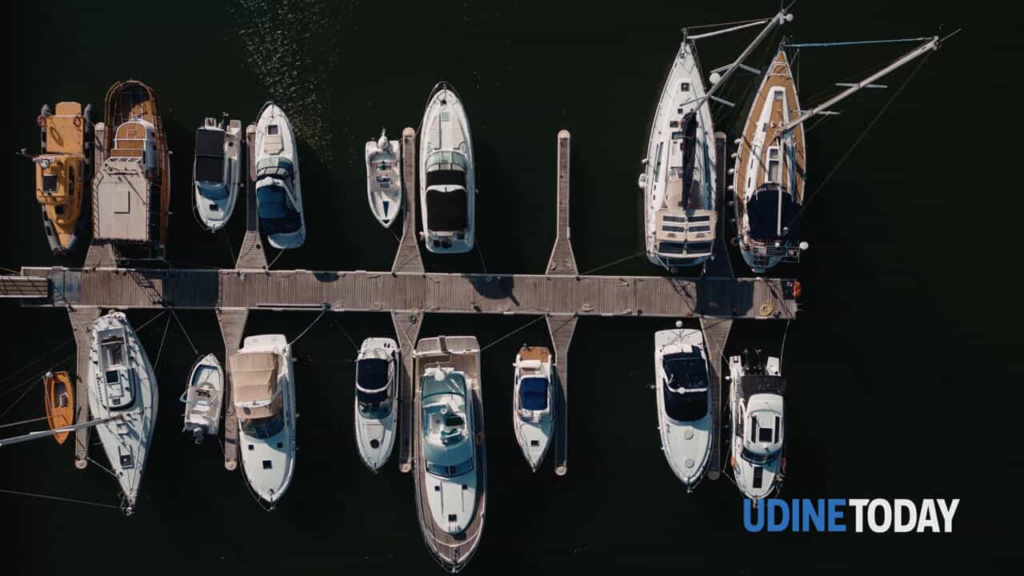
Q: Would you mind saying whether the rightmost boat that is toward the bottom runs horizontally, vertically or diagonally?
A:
vertically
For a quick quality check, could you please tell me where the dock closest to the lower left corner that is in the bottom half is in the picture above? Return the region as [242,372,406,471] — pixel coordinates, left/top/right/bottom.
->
[63,308,100,471]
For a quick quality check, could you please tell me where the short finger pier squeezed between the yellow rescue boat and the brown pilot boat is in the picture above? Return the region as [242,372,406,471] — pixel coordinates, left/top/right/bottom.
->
[78,120,116,268]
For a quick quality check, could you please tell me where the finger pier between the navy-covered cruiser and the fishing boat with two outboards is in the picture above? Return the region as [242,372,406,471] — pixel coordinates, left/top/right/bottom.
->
[701,320,736,481]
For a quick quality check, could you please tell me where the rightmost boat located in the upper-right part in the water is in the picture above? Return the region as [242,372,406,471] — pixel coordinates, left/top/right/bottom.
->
[730,35,955,272]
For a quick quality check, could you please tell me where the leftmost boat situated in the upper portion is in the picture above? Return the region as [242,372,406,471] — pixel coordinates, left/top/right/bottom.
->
[13,101,91,258]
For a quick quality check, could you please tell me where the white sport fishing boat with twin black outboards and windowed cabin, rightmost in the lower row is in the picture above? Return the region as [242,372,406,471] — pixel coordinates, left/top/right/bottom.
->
[726,346,786,507]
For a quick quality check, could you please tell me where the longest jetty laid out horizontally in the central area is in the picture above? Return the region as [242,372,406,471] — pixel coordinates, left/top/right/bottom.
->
[19,266,796,322]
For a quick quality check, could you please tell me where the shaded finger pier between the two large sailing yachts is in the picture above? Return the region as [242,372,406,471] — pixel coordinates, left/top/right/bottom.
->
[702,131,736,276]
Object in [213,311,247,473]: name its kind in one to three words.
pier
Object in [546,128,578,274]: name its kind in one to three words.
pier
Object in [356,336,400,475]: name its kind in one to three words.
boat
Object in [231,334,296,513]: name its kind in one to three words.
boat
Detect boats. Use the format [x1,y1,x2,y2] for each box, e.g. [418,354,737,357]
[0,308,159,519]
[94,80,174,251]
[13,101,91,258]
[366,122,401,226]
[45,370,77,444]
[654,327,712,491]
[730,35,955,272]
[231,334,296,513]
[255,96,308,249]
[356,336,400,475]
[514,344,555,475]
[181,354,225,440]
[190,105,242,236]
[643,10,797,273]
[412,335,487,571]
[726,346,786,507]
[419,83,475,254]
